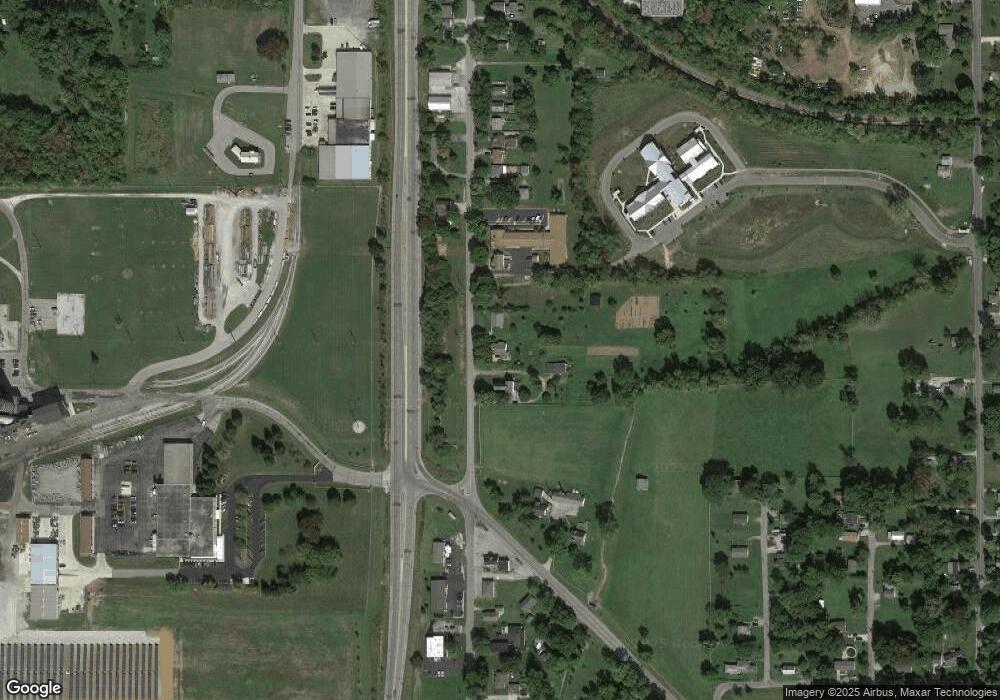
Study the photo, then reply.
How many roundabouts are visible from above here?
none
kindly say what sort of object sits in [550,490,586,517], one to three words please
barn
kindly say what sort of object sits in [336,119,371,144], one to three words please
building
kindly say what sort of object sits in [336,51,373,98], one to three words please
building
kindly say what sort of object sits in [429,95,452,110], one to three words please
barn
